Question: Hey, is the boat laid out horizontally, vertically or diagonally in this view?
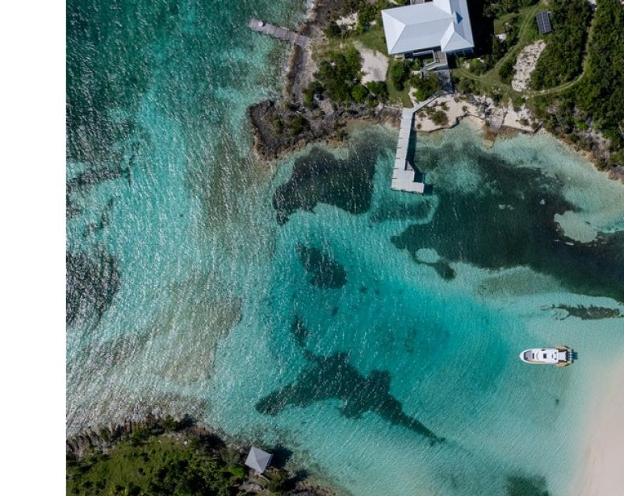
horizontally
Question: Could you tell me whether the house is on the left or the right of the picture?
right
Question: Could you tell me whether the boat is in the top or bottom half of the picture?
bottom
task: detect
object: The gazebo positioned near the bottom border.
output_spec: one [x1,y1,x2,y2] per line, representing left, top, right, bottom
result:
[245,446,277,481]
